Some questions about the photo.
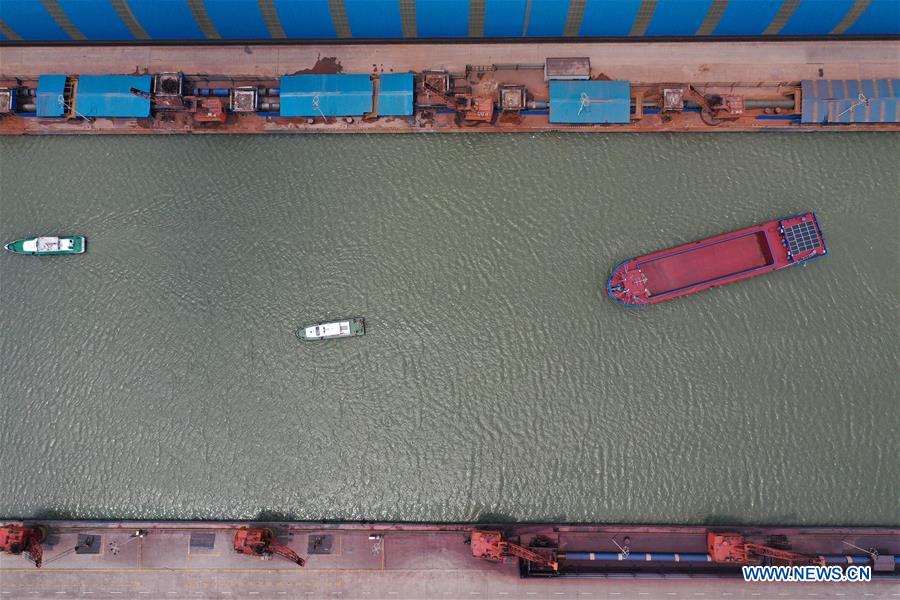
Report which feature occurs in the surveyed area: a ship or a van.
ship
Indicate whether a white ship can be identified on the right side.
No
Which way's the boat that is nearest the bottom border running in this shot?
from side to side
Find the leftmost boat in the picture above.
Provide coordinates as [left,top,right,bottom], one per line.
[3,236,89,255]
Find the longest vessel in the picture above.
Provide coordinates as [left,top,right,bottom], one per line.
[606,209,829,304]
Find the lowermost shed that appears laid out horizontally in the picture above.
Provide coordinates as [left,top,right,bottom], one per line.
[546,58,590,79]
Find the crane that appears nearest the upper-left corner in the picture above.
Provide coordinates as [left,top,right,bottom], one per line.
[128,85,234,126]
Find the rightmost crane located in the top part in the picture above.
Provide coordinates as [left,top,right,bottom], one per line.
[686,83,741,126]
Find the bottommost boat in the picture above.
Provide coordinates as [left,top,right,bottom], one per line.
[295,318,367,341]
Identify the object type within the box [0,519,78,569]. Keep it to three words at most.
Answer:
crane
